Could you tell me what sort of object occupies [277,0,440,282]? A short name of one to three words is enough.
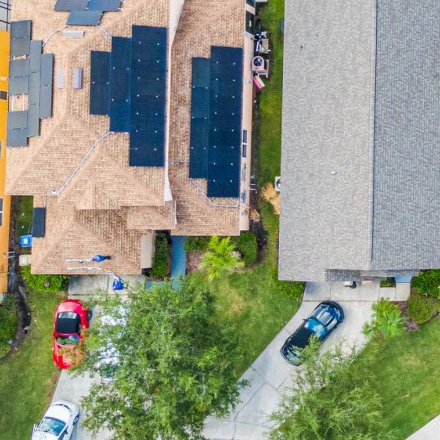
house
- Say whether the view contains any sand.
No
